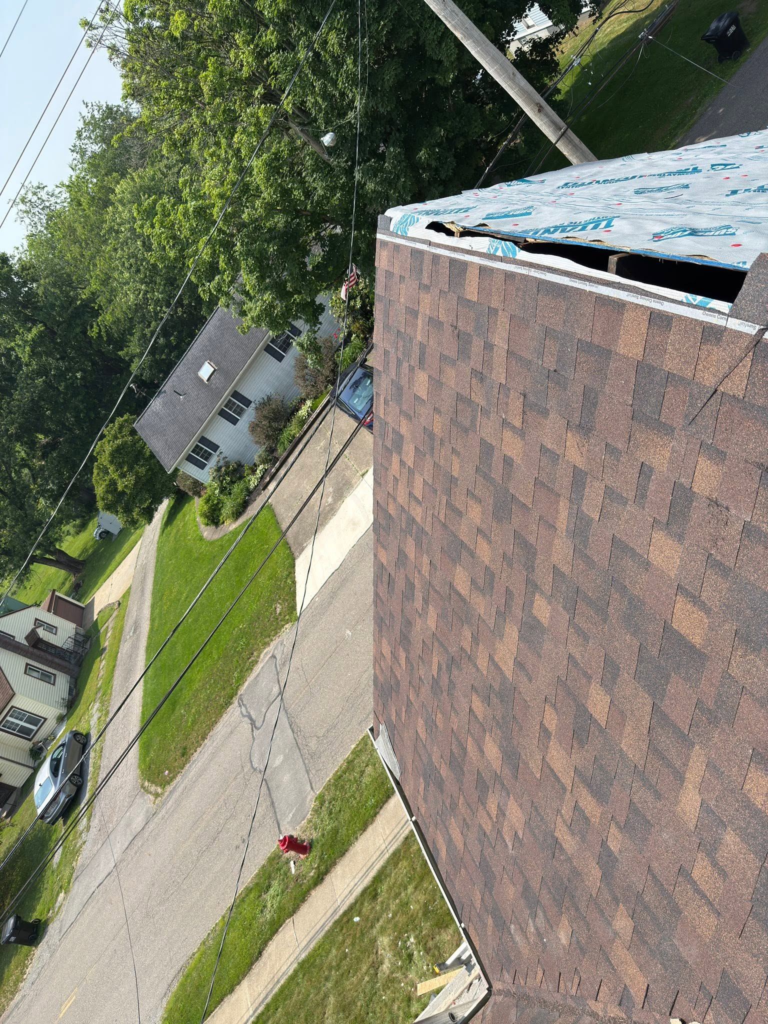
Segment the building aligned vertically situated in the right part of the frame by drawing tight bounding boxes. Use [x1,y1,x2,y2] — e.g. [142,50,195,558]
[367,125,768,1024]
